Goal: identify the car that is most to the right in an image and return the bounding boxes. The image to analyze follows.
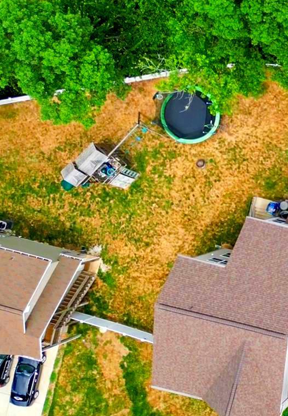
[10,353,49,407]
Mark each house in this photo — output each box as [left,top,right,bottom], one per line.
[152,215,288,416]
[0,230,102,366]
